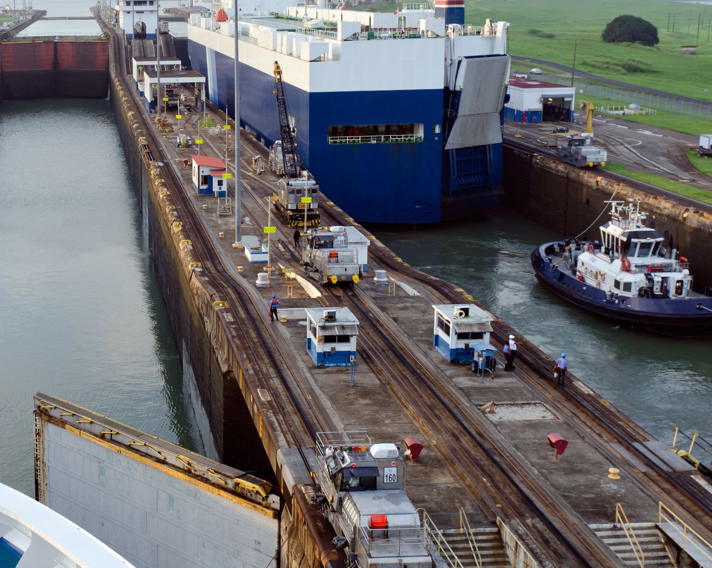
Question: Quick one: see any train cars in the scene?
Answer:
Yes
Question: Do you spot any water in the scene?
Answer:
Yes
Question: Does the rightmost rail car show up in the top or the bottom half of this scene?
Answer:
top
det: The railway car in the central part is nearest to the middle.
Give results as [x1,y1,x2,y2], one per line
[298,220,357,283]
